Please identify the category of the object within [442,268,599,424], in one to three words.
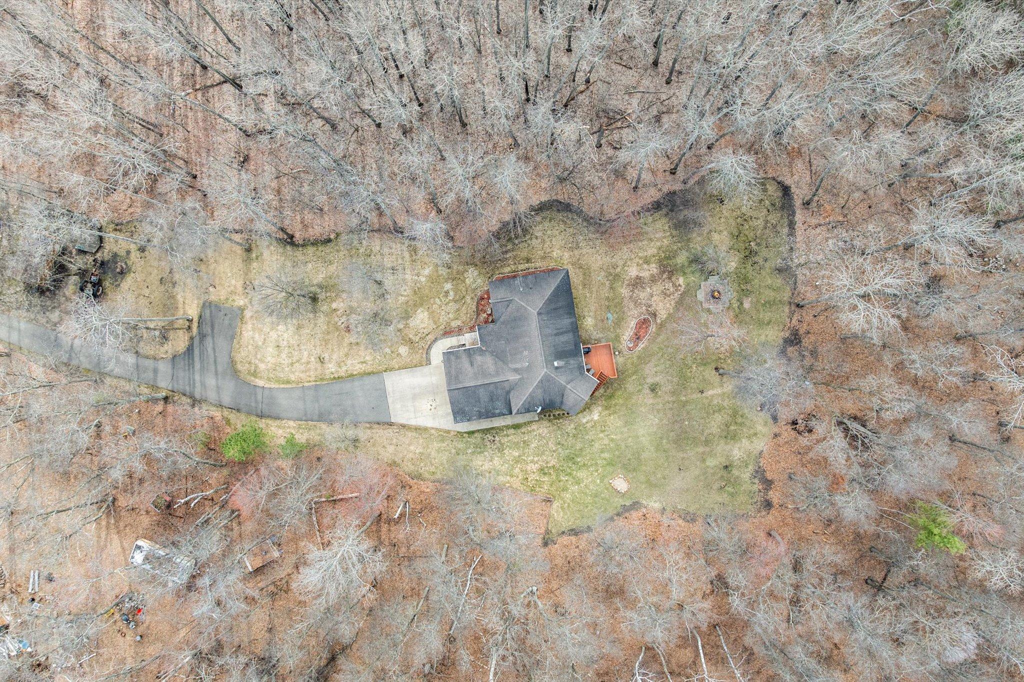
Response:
house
